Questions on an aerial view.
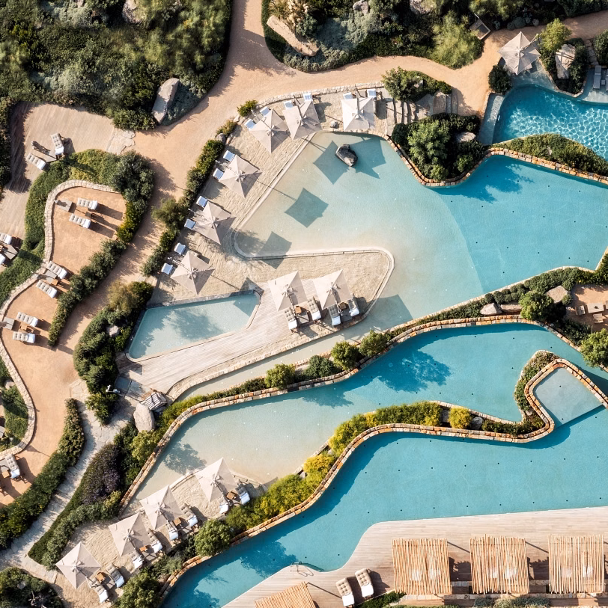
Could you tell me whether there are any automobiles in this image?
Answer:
No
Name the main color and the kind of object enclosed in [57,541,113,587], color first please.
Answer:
white umbrella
